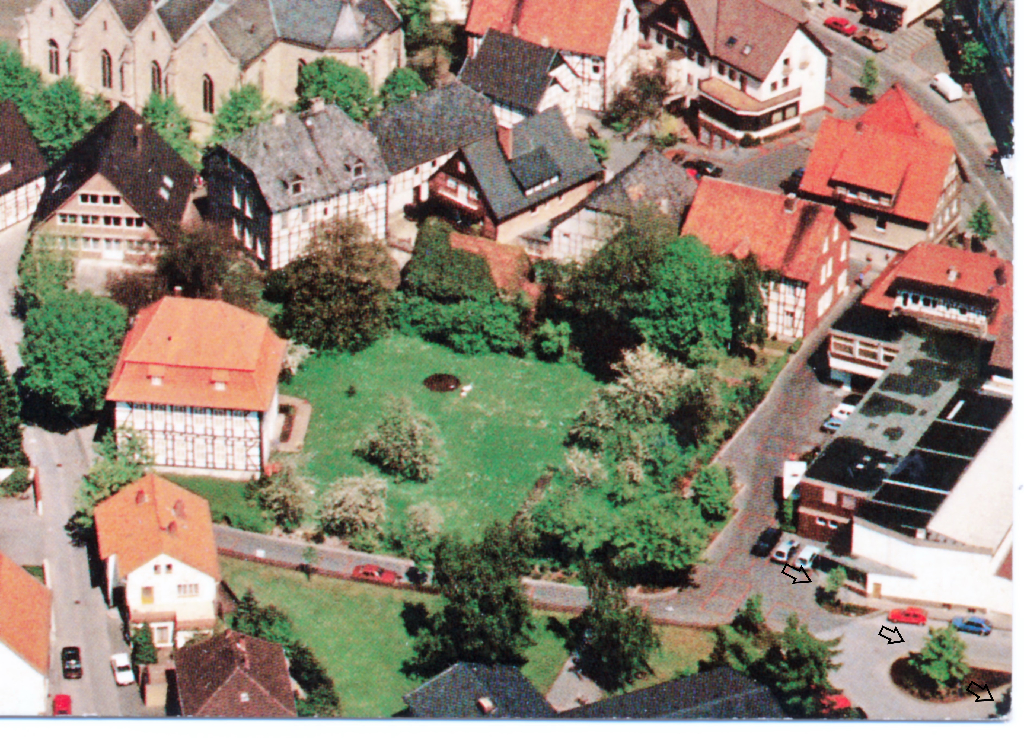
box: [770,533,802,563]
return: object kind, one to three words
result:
car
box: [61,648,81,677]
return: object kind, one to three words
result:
car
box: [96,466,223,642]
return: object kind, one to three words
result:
house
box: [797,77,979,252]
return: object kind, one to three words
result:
house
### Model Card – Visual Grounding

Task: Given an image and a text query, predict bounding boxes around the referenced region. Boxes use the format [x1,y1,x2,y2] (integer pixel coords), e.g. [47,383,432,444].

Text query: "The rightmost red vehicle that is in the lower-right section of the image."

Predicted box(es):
[886,605,929,627]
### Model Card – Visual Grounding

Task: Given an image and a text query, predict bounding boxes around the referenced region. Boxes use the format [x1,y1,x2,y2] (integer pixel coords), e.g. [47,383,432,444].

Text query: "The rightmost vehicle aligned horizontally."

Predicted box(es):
[950,614,994,637]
